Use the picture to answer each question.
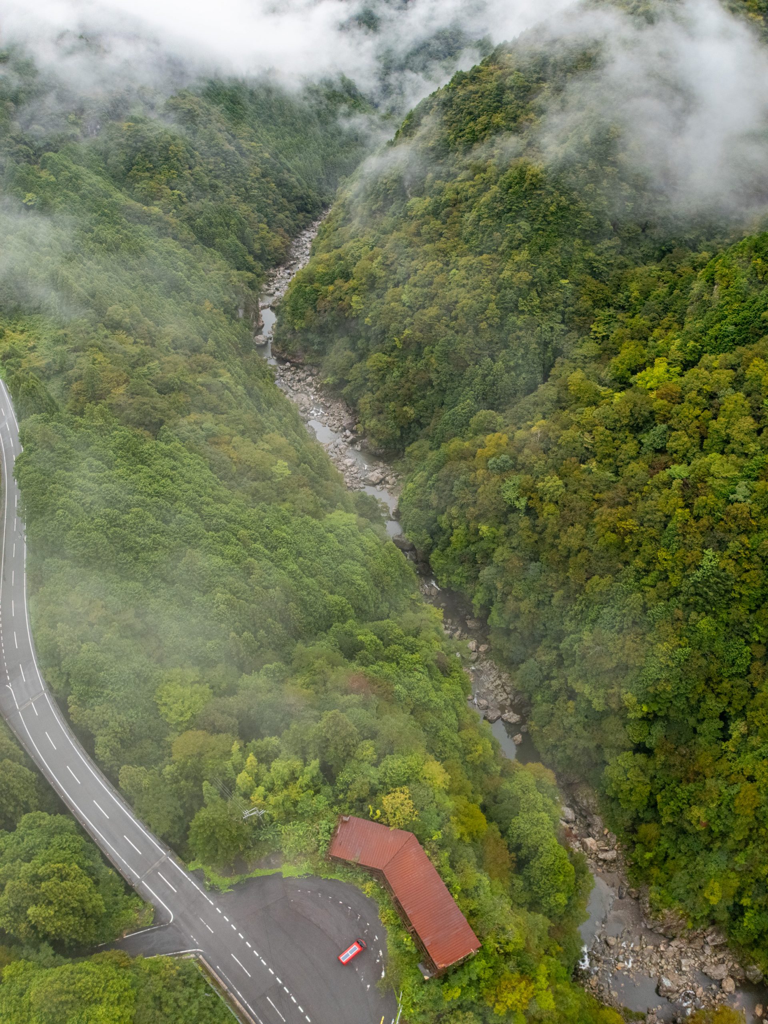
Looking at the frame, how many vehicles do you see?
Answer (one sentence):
The picture shows 1 vehicle.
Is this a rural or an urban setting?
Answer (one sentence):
The area shown here is rural.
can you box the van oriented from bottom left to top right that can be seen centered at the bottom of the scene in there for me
[339,938,367,967]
